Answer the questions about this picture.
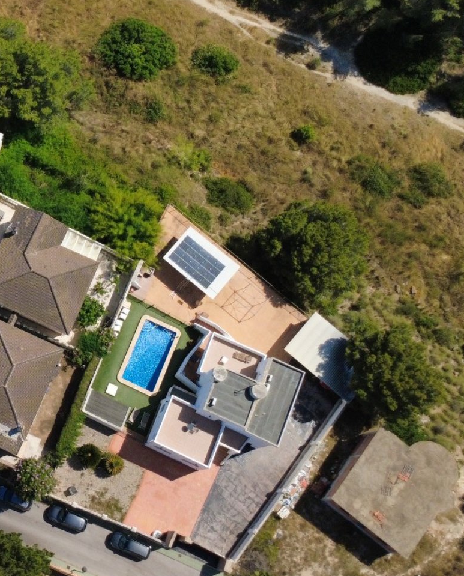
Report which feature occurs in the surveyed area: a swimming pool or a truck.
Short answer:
swimming pool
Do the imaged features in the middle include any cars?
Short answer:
No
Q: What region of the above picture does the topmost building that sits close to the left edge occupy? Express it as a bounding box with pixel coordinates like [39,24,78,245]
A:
[0,205,102,336]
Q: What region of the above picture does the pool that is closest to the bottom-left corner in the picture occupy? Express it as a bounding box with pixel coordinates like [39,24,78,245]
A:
[121,318,179,391]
